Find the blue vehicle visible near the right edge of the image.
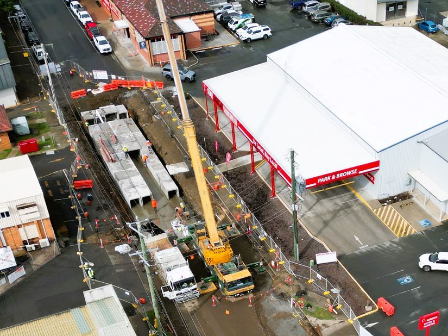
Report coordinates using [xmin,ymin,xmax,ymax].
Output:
[421,20,440,33]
